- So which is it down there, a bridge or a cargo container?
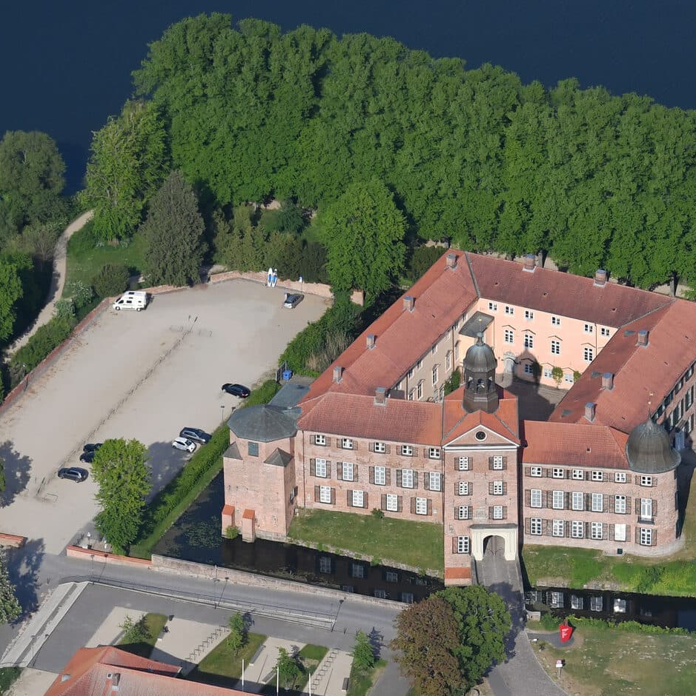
bridge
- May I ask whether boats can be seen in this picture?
No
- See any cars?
Yes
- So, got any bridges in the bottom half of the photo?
Yes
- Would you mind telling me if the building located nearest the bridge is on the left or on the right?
right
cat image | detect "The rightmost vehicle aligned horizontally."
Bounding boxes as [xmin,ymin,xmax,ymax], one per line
[219,381,249,396]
